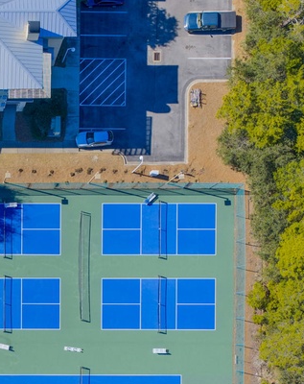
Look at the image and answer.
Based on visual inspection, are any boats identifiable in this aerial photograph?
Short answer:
No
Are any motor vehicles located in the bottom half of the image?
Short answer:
No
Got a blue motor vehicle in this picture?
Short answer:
Yes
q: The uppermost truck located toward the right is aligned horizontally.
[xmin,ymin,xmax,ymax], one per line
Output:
[185,8,236,30]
